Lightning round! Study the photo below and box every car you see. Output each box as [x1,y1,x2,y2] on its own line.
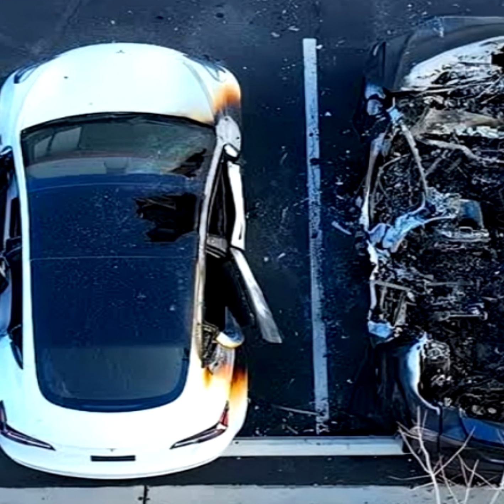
[360,12,504,474]
[0,42,285,485]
